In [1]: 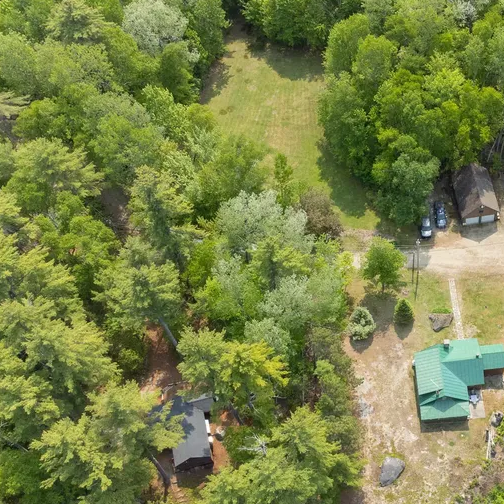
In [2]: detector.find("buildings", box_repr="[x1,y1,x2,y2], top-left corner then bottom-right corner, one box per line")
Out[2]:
[450,165,500,227]
[414,338,504,423]
[145,390,222,471]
